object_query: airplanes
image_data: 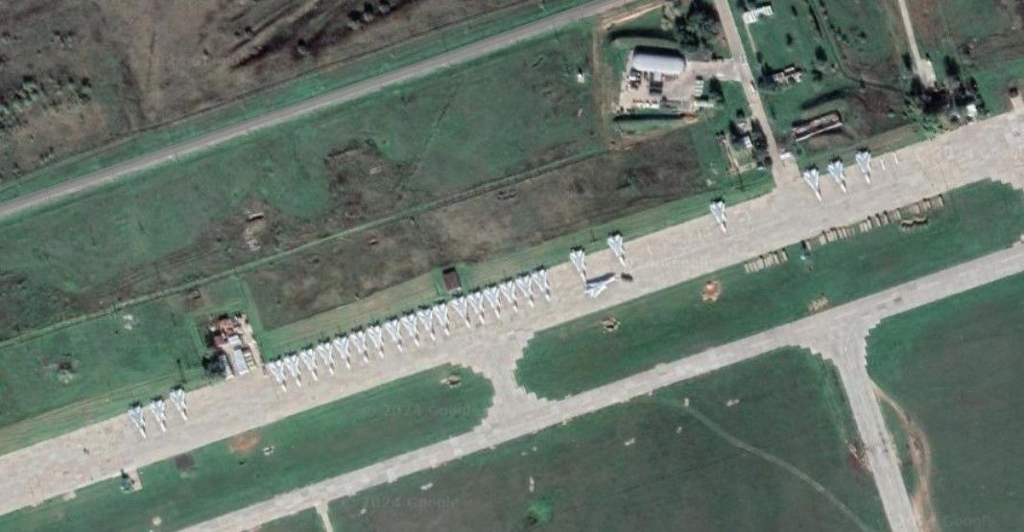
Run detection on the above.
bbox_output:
[805,169,821,202]
[150,400,165,431]
[468,292,484,324]
[572,251,587,283]
[452,297,470,328]
[856,152,871,184]
[368,326,383,357]
[129,406,146,439]
[533,270,550,303]
[419,309,435,341]
[517,275,533,307]
[608,235,626,268]
[172,389,187,422]
[350,331,367,363]
[269,360,285,391]
[829,161,845,193]
[501,281,517,313]
[385,320,401,351]
[335,337,350,369]
[586,278,616,299]
[402,314,418,346]
[433,305,449,338]
[300,349,317,380]
[711,201,726,232]
[316,343,333,374]
[485,287,500,318]
[285,355,300,387]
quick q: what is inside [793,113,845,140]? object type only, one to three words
shed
